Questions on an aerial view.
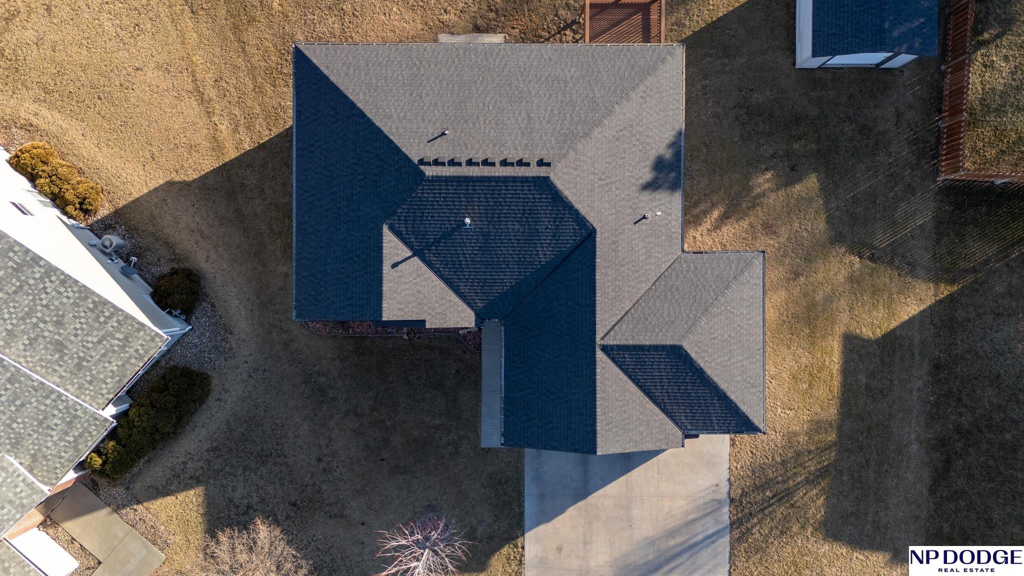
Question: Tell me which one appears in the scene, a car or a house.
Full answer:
There is a house in the scene.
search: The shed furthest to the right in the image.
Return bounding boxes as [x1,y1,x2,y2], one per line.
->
[793,0,938,70]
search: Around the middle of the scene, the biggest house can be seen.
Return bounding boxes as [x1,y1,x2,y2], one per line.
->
[292,44,765,456]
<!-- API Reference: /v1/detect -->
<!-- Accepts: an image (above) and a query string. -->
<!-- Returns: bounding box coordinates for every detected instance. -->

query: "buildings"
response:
[793,0,938,70]
[292,44,765,456]
[0,148,189,576]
